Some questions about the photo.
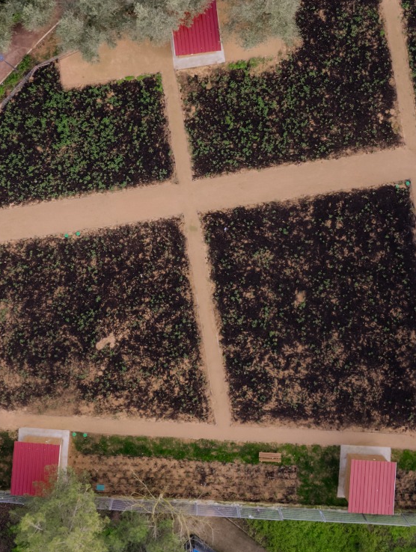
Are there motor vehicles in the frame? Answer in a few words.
No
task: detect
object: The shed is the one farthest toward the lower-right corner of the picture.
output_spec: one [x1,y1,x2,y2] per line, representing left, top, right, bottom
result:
[340,448,399,522]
